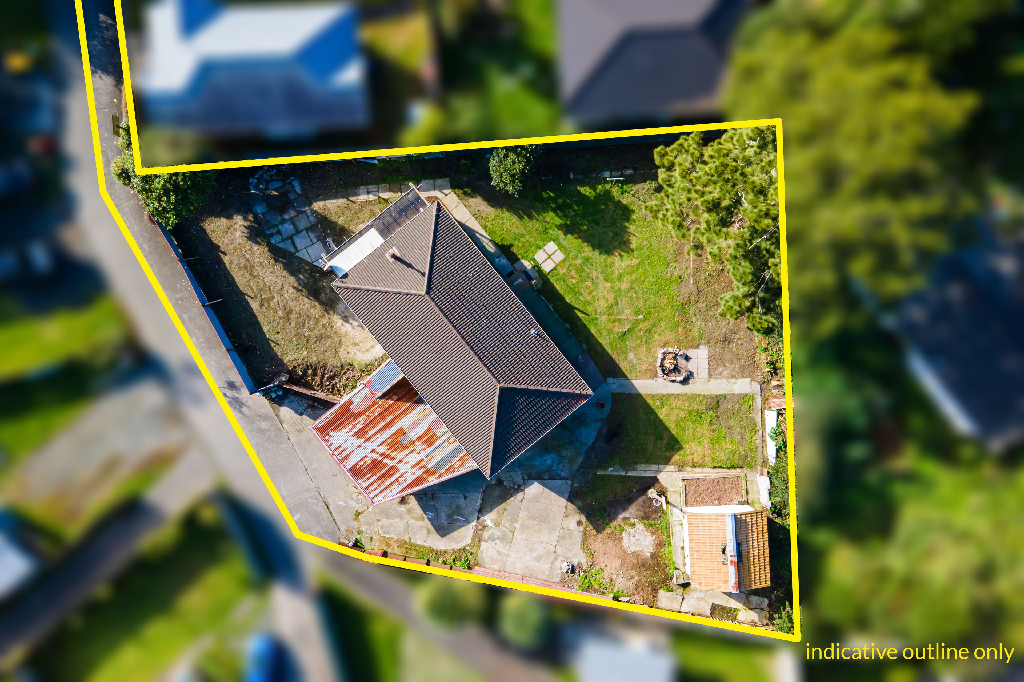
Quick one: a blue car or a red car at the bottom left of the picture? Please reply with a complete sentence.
Looking at the bottom left of the picture, you will find a blue car.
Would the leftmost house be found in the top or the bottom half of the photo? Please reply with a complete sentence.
Seen from above, the leftmost house lies in the bottom half of the view.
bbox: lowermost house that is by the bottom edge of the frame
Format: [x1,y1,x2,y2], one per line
[570,623,671,682]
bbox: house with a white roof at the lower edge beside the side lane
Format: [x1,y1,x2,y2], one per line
[0,518,54,608]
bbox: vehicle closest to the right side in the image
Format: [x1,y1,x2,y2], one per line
[242,631,283,682]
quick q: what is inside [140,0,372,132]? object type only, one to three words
house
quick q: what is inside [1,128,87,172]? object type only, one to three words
car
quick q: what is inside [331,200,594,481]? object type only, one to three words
house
